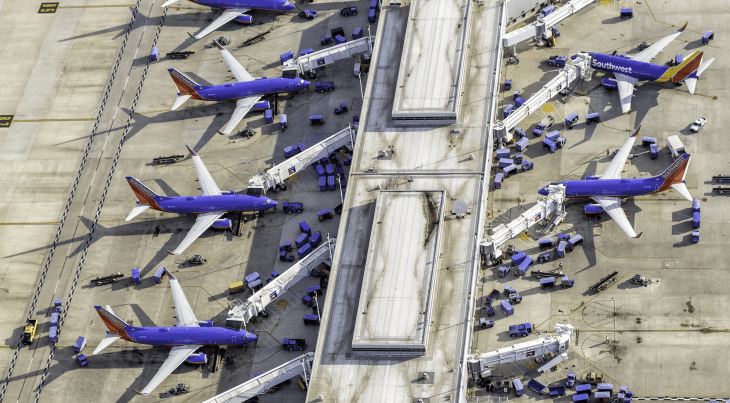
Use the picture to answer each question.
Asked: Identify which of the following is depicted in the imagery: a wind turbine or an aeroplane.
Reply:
aeroplane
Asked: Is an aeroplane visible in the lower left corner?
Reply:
Yes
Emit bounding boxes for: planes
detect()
[167,40,311,137]
[538,126,692,240]
[571,21,714,117]
[94,267,259,397]
[125,145,279,257]
[162,0,295,40]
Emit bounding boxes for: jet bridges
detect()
[466,324,580,390]
[500,0,605,59]
[249,123,364,195]
[228,234,341,328]
[491,54,592,148]
[196,350,318,403]
[479,190,568,272]
[281,37,382,82]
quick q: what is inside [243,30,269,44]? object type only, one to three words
work vehicle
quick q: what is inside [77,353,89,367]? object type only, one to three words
vehicle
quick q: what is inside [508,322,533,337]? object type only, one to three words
work vehicle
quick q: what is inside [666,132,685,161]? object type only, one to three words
vehicle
